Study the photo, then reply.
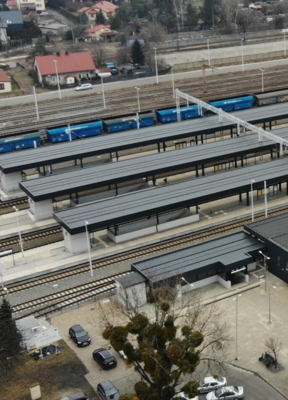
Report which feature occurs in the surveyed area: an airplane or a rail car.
rail car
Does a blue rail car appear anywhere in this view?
Yes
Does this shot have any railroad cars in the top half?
Yes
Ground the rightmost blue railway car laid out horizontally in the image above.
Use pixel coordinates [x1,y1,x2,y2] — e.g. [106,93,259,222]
[209,94,255,114]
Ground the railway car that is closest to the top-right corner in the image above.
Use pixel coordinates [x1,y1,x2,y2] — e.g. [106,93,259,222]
[252,87,288,106]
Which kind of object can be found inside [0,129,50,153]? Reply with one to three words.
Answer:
rail car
